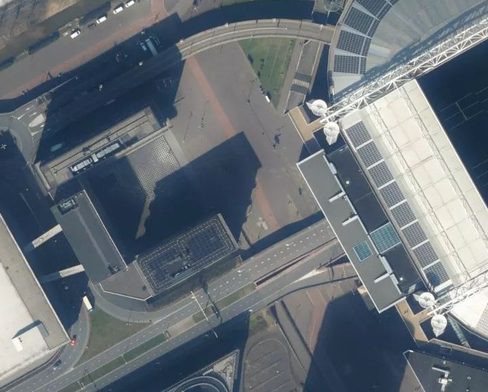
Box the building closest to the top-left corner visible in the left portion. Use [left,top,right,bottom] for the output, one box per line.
[36,106,169,196]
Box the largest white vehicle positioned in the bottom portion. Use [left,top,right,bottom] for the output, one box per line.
[82,292,95,315]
